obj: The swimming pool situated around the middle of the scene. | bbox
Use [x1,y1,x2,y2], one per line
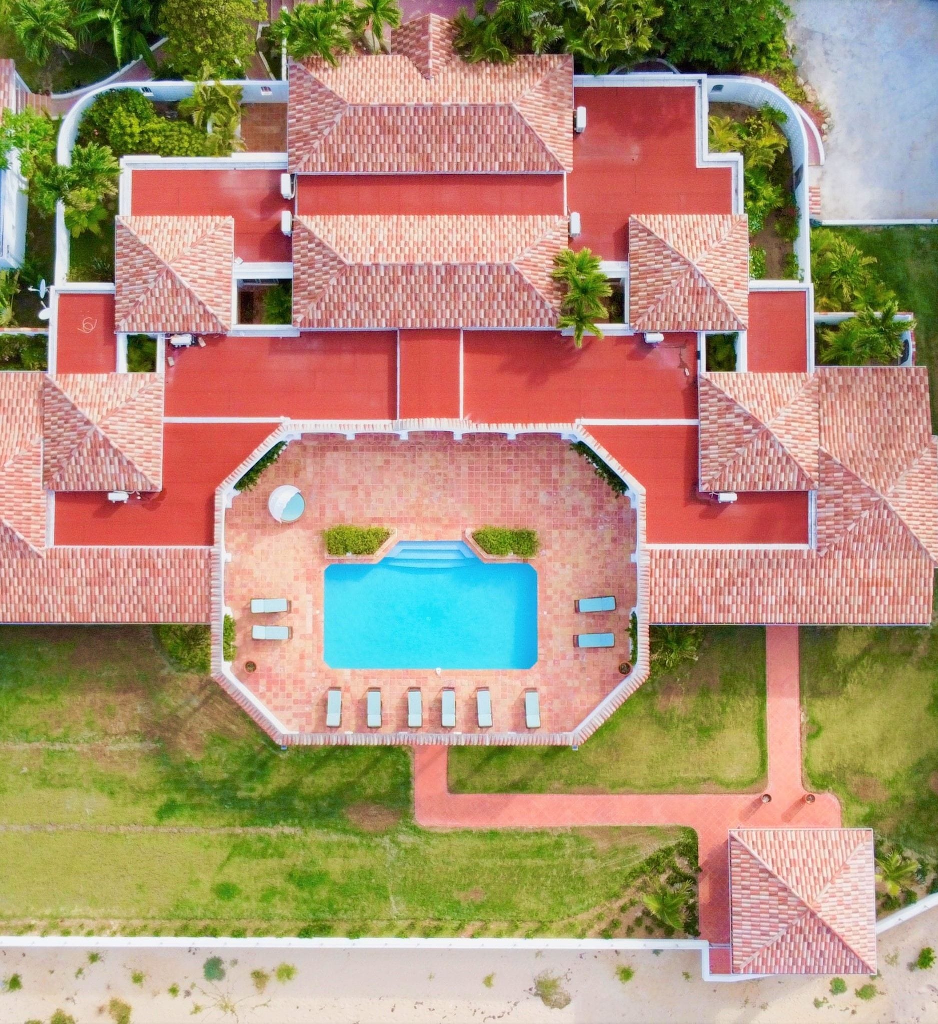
[323,540,538,670]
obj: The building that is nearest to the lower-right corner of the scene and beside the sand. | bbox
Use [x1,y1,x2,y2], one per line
[727,827,879,976]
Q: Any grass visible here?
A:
Yes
